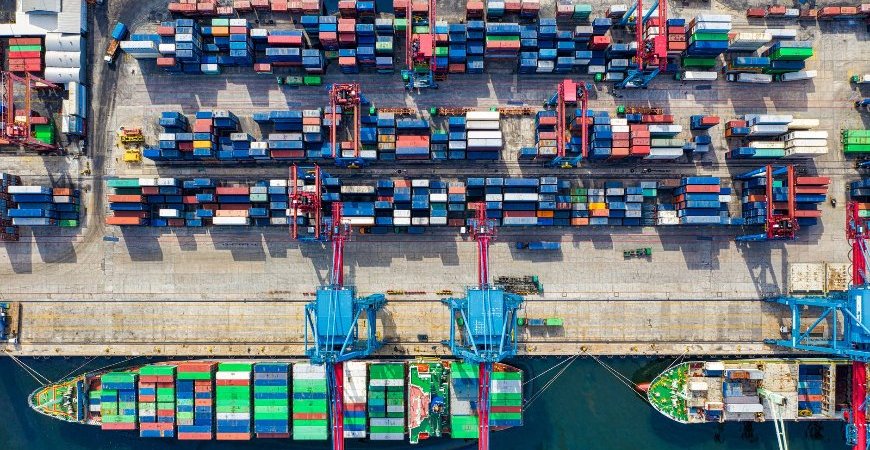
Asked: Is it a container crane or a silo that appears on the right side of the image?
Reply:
container crane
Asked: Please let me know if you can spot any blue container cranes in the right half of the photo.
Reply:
Yes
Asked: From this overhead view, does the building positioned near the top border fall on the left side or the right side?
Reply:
left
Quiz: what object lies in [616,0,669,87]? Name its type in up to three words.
crane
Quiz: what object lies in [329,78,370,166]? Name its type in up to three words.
crane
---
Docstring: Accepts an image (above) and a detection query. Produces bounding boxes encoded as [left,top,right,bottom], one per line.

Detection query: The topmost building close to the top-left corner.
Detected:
[0,0,87,87]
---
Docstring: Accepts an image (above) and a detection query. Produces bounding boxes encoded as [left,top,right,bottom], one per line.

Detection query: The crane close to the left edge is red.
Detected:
[2,66,71,152]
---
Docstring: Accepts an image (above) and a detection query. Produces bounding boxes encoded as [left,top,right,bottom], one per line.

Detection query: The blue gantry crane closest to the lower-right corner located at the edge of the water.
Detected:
[768,202,870,450]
